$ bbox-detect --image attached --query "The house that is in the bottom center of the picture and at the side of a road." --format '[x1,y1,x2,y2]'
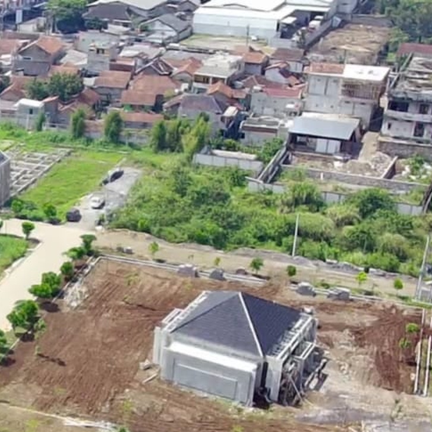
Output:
[153,284,328,405]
